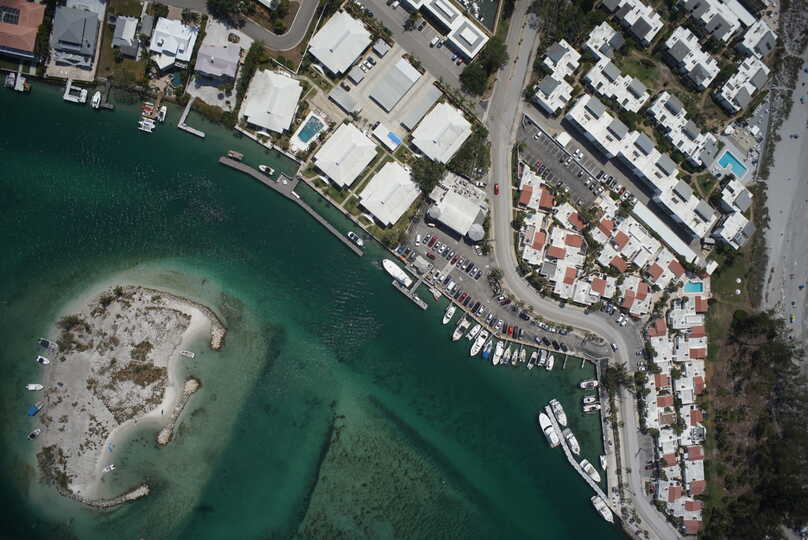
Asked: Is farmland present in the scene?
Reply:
No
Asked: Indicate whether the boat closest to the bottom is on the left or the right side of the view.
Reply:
right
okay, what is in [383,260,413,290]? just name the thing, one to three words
boat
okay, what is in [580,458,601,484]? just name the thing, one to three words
boat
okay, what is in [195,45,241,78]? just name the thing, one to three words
house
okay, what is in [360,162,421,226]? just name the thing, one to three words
building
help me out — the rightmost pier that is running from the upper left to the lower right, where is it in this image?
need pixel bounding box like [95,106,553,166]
[544,404,609,503]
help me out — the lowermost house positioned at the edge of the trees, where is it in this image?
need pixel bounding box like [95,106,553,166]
[664,497,704,535]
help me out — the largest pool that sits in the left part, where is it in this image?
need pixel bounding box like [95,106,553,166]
[296,114,325,143]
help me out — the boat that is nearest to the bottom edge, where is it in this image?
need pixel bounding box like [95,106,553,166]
[589,493,614,525]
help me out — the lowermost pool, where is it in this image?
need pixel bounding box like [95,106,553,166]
[683,280,705,293]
